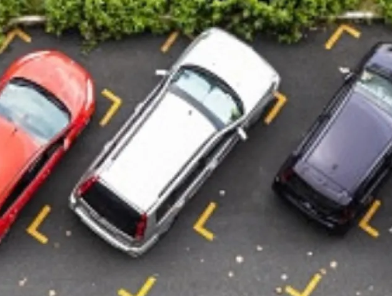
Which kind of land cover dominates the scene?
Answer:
paved ground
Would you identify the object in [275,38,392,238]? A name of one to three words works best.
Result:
car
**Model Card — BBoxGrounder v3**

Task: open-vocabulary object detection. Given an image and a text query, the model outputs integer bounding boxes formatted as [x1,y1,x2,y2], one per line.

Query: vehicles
[275,38,392,238]
[0,45,96,247]
[70,27,279,260]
